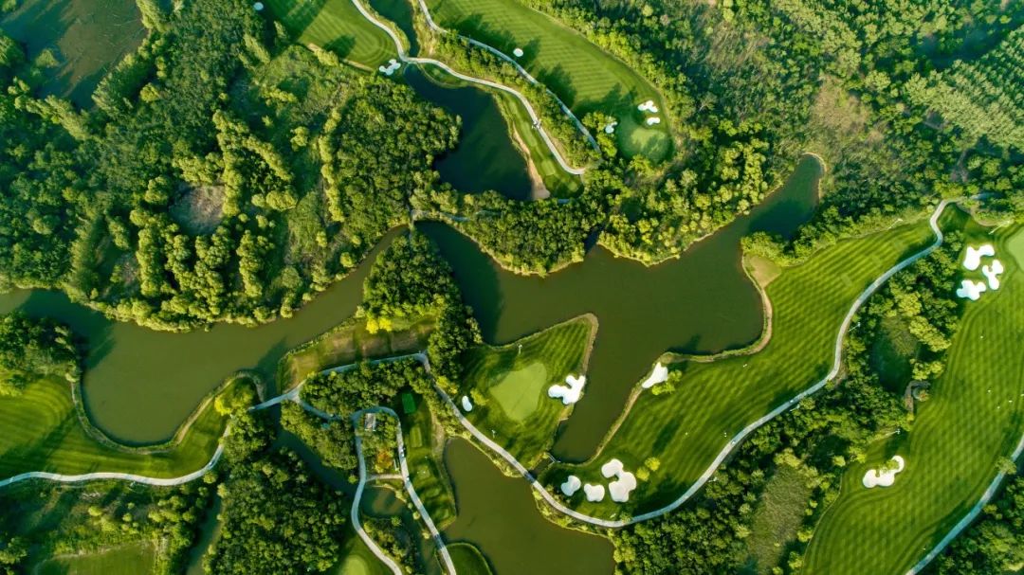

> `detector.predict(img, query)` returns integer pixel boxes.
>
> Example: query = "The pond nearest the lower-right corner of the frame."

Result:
[444,439,616,575]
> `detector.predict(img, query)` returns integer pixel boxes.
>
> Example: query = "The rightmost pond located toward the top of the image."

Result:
[368,0,530,201]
